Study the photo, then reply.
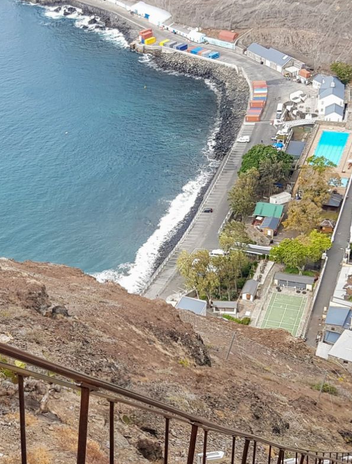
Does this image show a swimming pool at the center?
No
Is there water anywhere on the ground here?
Yes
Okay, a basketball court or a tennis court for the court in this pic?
tennis court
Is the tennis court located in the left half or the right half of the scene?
right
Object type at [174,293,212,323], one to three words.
shed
